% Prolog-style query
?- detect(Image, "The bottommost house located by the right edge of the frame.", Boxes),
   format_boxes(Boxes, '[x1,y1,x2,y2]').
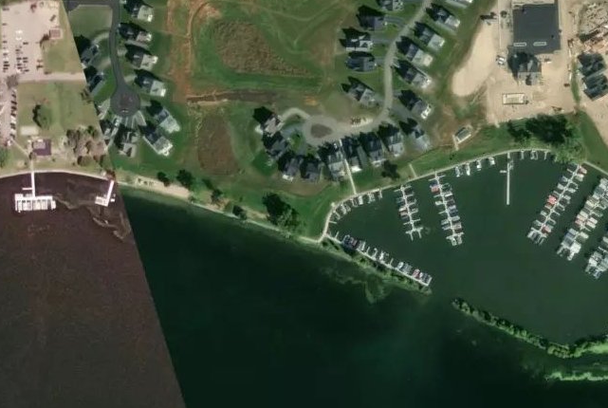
[585,73,608,99]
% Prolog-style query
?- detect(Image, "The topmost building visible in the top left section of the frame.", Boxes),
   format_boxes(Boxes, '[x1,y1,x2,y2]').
[124,0,152,21]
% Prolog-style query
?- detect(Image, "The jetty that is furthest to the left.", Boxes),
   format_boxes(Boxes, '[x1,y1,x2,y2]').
[16,173,56,210]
